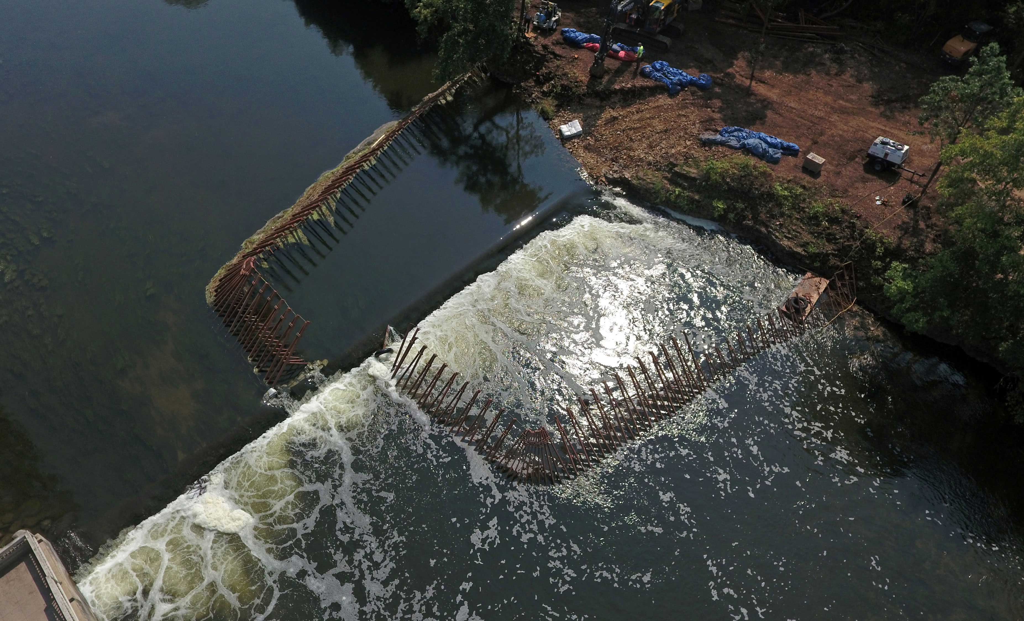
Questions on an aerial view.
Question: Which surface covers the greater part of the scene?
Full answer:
The largest share of the image is taken up by water.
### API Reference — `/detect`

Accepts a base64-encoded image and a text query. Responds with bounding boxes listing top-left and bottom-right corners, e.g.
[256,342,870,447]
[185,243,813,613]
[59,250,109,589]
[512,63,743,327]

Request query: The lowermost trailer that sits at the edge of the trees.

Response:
[864,125,938,175]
